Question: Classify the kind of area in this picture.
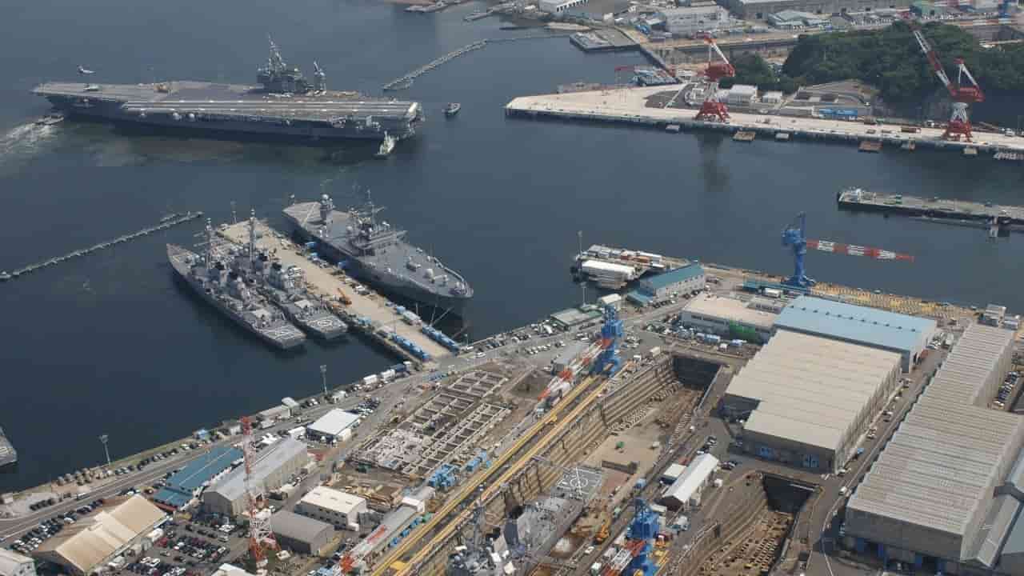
port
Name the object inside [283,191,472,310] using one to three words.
ship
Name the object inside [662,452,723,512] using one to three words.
shed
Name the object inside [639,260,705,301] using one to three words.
building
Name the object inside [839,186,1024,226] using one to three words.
pier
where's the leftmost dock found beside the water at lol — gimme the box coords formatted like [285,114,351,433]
[217,218,462,368]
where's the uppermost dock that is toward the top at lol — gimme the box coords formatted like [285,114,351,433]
[570,28,639,53]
